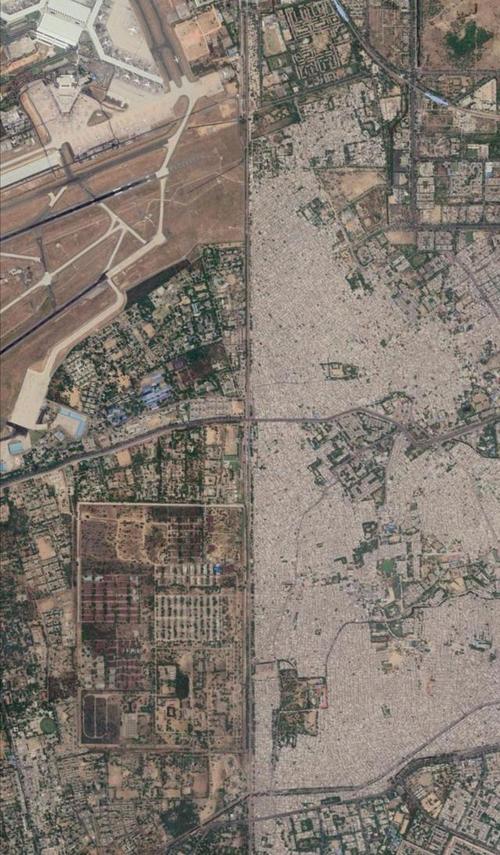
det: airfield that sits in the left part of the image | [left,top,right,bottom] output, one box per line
[0,0,242,473]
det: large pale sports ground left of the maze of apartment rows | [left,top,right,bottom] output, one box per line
[263,15,285,57]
